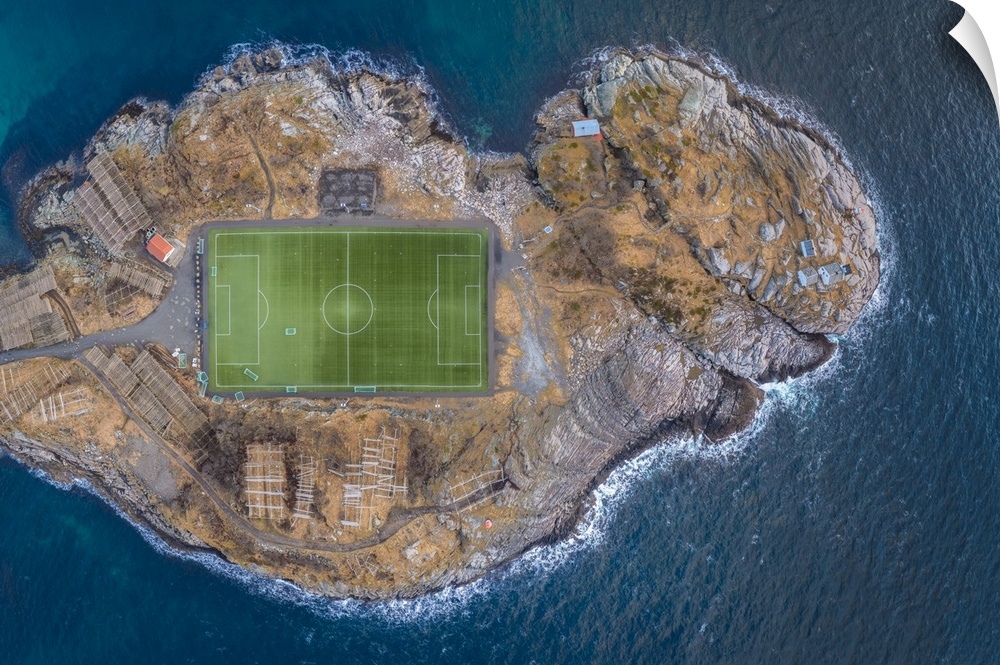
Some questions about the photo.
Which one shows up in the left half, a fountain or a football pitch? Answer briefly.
football pitch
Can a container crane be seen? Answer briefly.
No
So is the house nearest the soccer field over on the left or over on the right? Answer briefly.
left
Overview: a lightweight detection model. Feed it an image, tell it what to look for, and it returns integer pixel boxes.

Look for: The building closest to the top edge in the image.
[573,116,601,136]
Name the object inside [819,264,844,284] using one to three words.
house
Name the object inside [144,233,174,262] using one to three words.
house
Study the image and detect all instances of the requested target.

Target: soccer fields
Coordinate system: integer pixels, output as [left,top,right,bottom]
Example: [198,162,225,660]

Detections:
[208,228,488,393]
